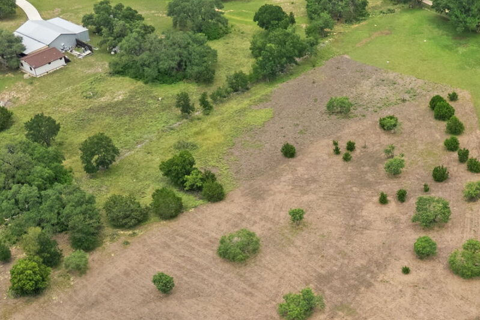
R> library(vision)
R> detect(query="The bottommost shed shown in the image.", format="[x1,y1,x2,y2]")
[19,50,65,77]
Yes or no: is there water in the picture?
No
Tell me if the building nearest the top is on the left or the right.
left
